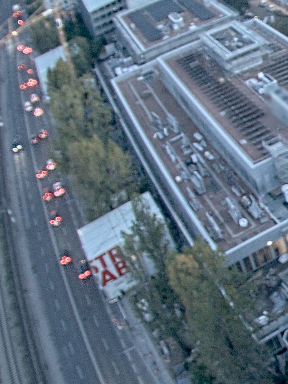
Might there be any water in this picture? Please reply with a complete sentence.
No, no water is visible.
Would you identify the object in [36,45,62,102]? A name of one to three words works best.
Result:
shed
